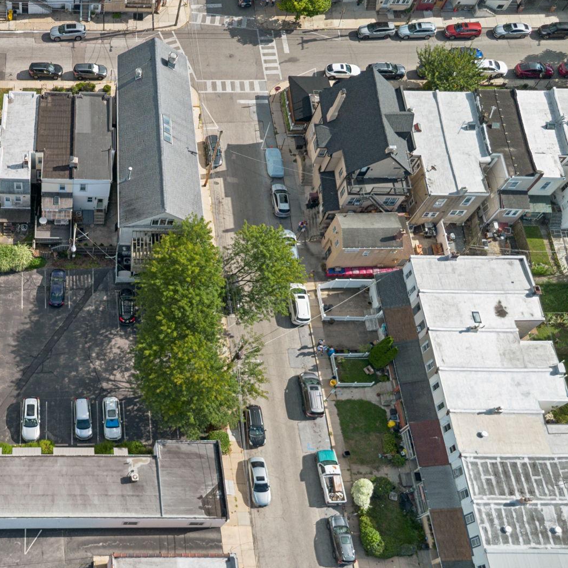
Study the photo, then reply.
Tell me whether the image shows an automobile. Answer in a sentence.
Yes, the picture does show an automobile.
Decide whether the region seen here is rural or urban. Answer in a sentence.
The area shown here is urban.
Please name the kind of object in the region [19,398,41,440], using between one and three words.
car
